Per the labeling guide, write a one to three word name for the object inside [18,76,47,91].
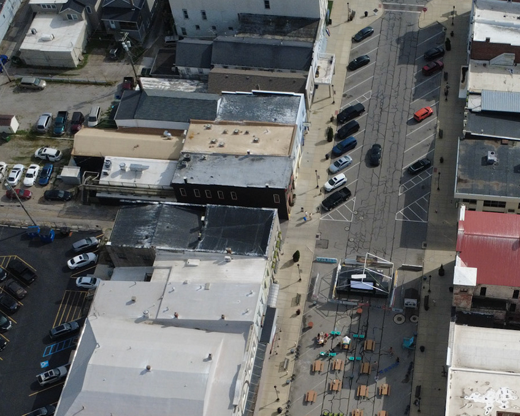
car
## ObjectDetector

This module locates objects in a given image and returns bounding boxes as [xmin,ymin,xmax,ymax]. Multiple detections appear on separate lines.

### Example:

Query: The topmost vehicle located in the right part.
[352,28,375,43]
